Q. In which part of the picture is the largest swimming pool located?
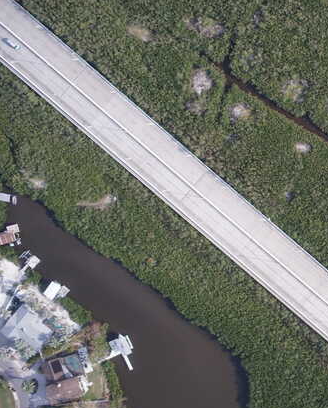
bottom left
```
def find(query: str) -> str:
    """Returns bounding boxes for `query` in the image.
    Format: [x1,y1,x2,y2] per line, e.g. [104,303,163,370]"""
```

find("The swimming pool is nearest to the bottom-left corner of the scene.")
[62,351,85,380]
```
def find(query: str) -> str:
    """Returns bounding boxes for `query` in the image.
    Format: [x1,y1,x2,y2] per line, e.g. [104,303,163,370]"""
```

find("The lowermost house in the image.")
[44,376,89,405]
